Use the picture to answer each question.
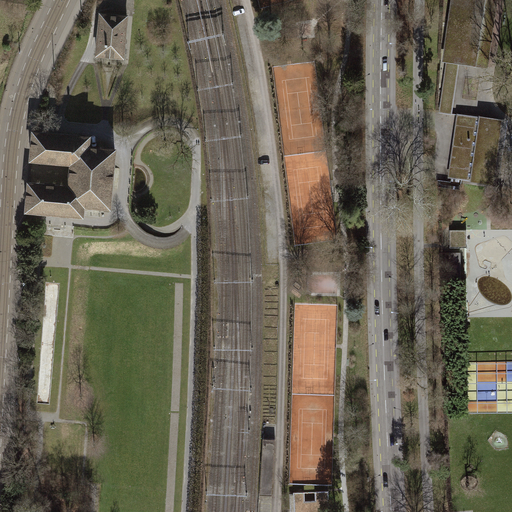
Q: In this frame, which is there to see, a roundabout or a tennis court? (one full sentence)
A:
The image shows a tennis court.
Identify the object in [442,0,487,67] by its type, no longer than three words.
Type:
building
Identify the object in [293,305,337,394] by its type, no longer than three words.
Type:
tennis court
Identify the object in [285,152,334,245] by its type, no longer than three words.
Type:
tennis court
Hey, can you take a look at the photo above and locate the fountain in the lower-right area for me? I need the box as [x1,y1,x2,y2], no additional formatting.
[488,430,508,450]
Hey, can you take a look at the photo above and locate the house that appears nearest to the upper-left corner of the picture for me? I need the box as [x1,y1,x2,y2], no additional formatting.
[96,13,128,64]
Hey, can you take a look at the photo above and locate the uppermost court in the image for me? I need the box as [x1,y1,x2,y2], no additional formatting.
[274,62,324,154]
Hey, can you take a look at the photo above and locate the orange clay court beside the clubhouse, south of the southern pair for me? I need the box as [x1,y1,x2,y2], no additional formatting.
[290,395,335,484]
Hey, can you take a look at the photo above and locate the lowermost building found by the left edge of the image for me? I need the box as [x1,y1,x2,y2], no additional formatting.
[24,131,120,219]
